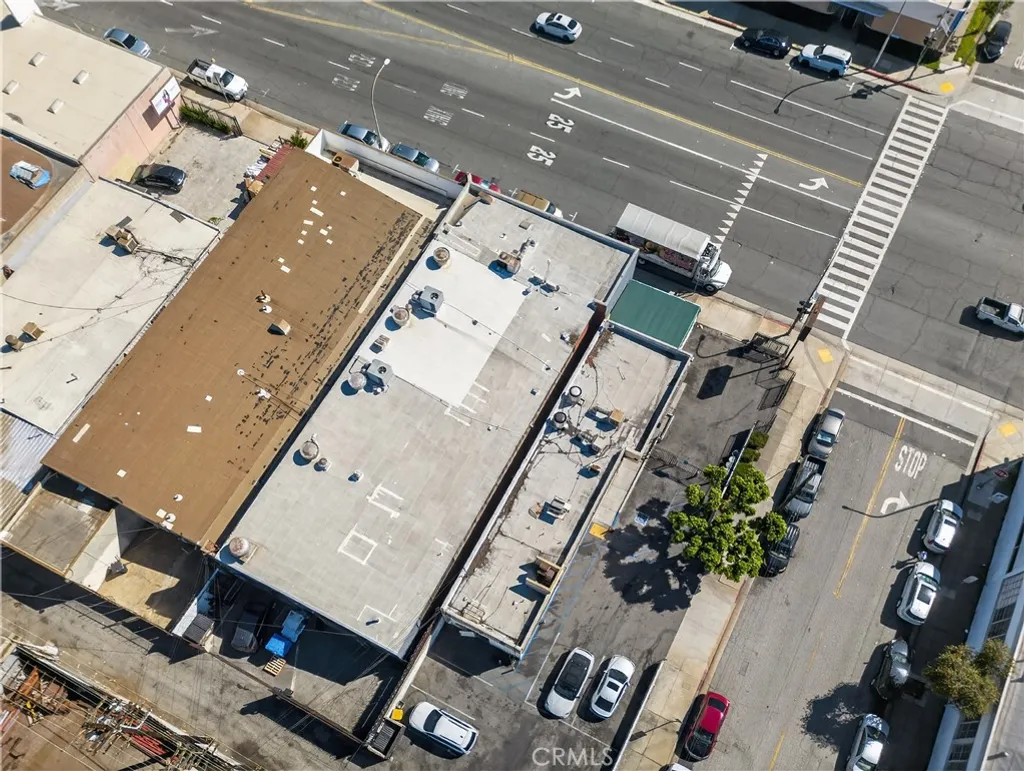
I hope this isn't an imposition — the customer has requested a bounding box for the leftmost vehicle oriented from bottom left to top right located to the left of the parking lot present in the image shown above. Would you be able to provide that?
[217,592,278,667]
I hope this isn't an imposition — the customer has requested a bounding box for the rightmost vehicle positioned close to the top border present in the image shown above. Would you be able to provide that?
[983,19,1019,66]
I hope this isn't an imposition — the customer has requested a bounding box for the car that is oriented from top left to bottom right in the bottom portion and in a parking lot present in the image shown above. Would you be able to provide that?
[406,699,481,760]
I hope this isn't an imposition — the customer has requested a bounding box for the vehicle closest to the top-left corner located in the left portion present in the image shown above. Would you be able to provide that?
[106,26,155,56]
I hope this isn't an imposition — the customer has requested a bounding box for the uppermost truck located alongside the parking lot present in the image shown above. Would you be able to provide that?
[614,200,743,289]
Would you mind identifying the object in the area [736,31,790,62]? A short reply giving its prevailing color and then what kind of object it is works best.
black car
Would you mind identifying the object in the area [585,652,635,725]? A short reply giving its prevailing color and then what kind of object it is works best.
white car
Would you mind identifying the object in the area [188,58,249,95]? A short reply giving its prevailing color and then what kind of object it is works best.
white truck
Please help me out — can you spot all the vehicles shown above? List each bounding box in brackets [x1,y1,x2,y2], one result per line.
[135,162,188,197]
[920,496,964,558]
[338,120,390,154]
[809,407,850,461]
[106,26,155,56]
[406,699,481,760]
[894,559,941,629]
[585,652,635,725]
[757,516,803,581]
[961,290,1024,339]
[736,31,790,62]
[683,691,732,764]
[533,14,583,45]
[188,58,249,95]
[545,646,598,722]
[783,451,832,524]
[868,635,915,705]
[841,702,889,771]
[614,200,743,289]
[387,140,441,175]
[450,167,504,191]
[983,19,1019,66]
[217,592,278,667]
